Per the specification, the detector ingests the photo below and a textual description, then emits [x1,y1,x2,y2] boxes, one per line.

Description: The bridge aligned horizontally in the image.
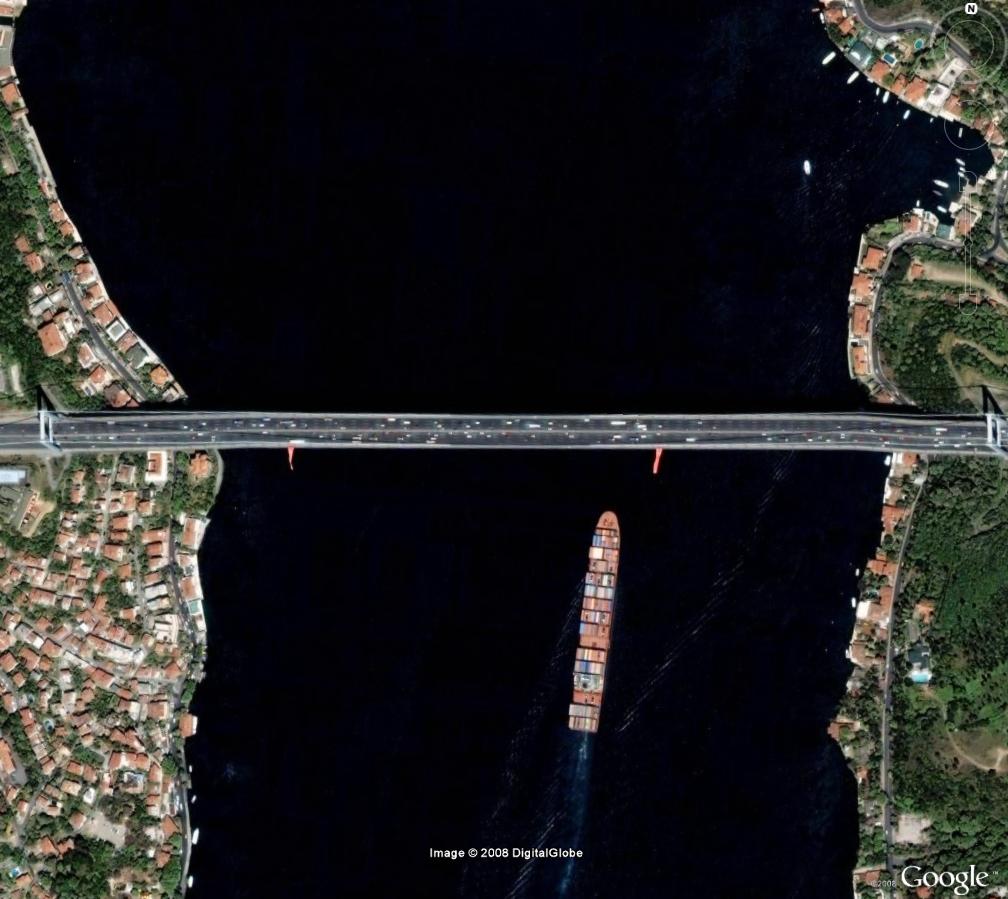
[0,410,1008,463]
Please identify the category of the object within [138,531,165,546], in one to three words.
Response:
house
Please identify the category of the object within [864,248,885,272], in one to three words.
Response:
house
